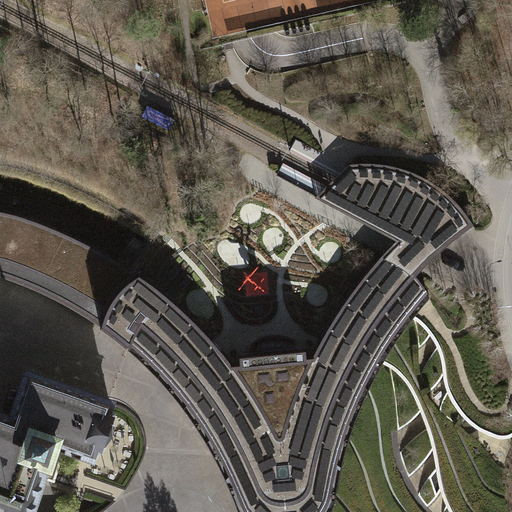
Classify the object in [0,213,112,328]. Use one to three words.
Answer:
building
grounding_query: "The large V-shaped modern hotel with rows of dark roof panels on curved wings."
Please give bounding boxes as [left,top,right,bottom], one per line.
[101,164,472,512]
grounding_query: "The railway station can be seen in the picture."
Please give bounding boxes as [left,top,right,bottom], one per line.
[278,140,338,196]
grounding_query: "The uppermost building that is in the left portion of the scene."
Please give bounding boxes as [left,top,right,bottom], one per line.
[142,107,174,130]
